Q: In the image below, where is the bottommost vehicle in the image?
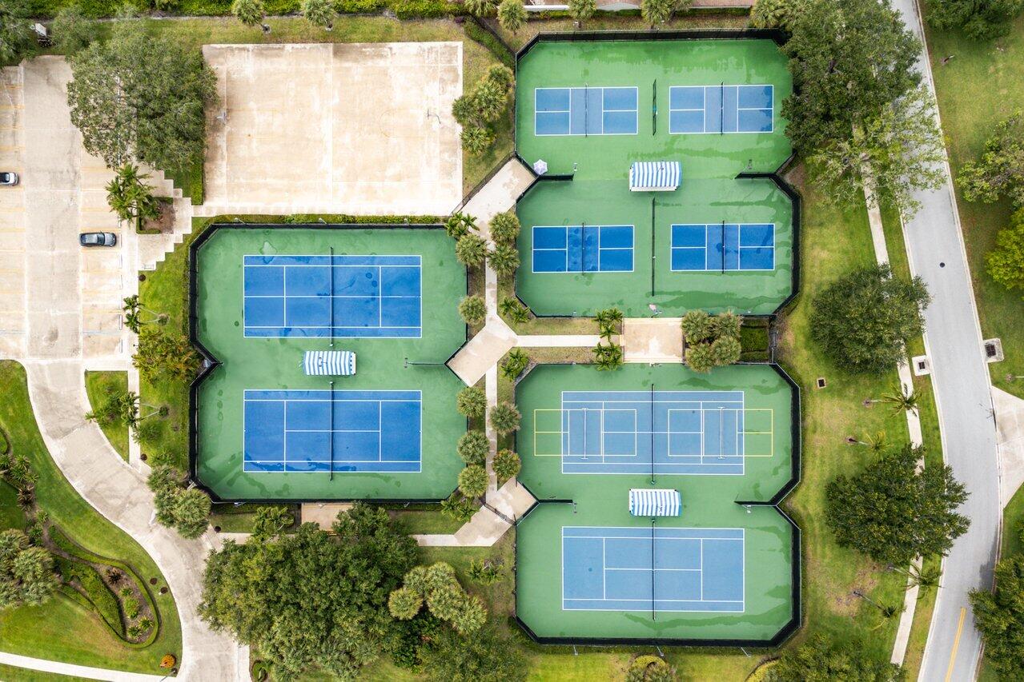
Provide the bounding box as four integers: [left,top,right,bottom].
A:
[79,230,118,248]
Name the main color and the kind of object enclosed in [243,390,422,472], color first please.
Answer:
blue tennis court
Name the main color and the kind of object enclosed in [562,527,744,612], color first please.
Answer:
blue tennis court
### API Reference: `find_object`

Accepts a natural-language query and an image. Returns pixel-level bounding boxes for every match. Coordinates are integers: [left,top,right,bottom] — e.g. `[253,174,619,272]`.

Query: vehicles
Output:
[79,230,118,248]
[0,170,20,186]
